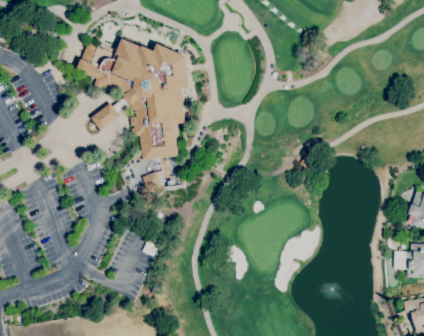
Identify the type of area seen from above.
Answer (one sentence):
What you see here is a golf course.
